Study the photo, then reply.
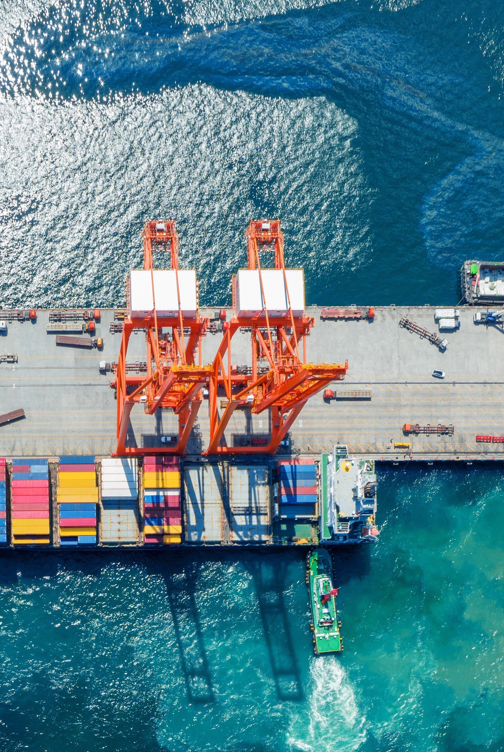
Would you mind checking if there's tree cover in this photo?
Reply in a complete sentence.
No, there is no tree cover in the image.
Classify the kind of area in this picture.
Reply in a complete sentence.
The area seen from above is a port.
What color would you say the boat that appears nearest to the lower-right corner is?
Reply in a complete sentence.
From above, the boat that appears nearest to the lower-right corner appears green.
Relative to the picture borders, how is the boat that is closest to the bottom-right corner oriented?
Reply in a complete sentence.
The boat that is closest to the bottom-right corner has been laid out from top to bottom relative to the frame.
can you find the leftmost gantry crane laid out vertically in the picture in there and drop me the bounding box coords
[112,227,212,455]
